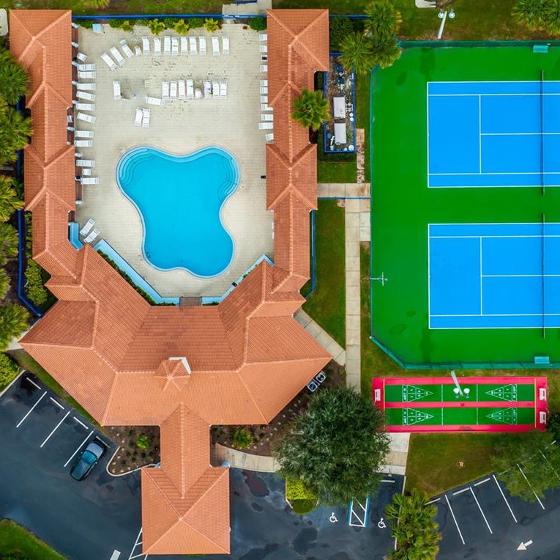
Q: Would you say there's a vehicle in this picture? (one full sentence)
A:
Yes, a vehicle can be made out from above.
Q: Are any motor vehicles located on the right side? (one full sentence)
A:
No, I can find no motor vehicle on the right side.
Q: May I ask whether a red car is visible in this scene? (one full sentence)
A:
No, the photo shows no red car.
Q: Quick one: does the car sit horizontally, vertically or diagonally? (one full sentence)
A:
The car runs diagonally in the image.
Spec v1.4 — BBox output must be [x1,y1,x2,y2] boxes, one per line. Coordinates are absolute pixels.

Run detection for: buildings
[8,8,331,555]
